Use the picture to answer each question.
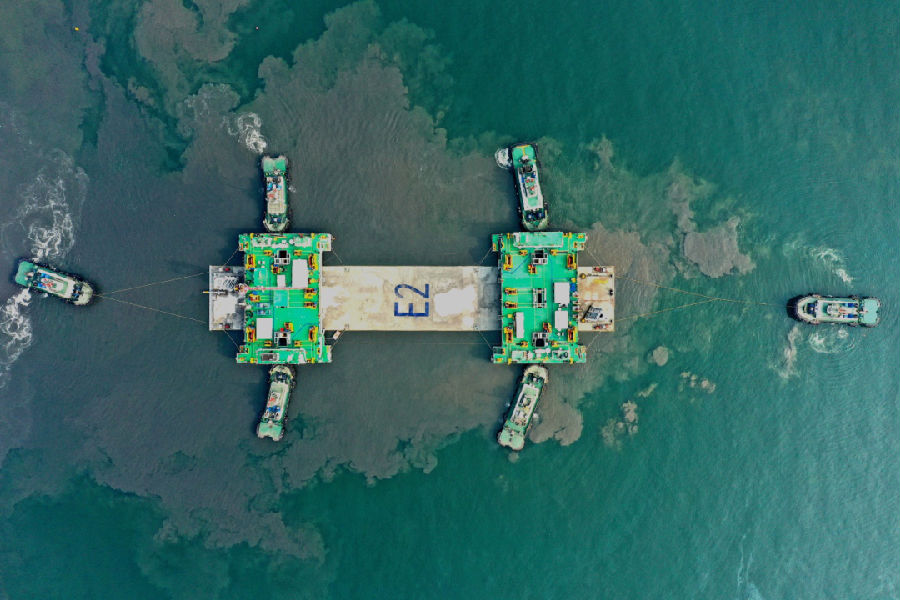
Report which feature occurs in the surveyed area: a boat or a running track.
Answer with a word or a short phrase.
boat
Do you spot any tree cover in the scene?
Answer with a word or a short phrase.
No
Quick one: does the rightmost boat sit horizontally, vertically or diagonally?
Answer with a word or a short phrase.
horizontally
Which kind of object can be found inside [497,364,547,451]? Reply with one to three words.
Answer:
boat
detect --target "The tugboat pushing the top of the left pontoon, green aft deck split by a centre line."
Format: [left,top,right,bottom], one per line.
[262,155,290,233]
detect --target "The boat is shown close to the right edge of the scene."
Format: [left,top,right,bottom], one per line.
[791,294,882,325]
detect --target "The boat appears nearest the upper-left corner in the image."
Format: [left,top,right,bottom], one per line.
[13,260,95,304]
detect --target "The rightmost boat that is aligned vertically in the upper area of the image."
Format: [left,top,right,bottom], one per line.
[510,142,547,233]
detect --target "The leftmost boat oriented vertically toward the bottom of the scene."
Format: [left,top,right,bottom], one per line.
[257,365,294,442]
